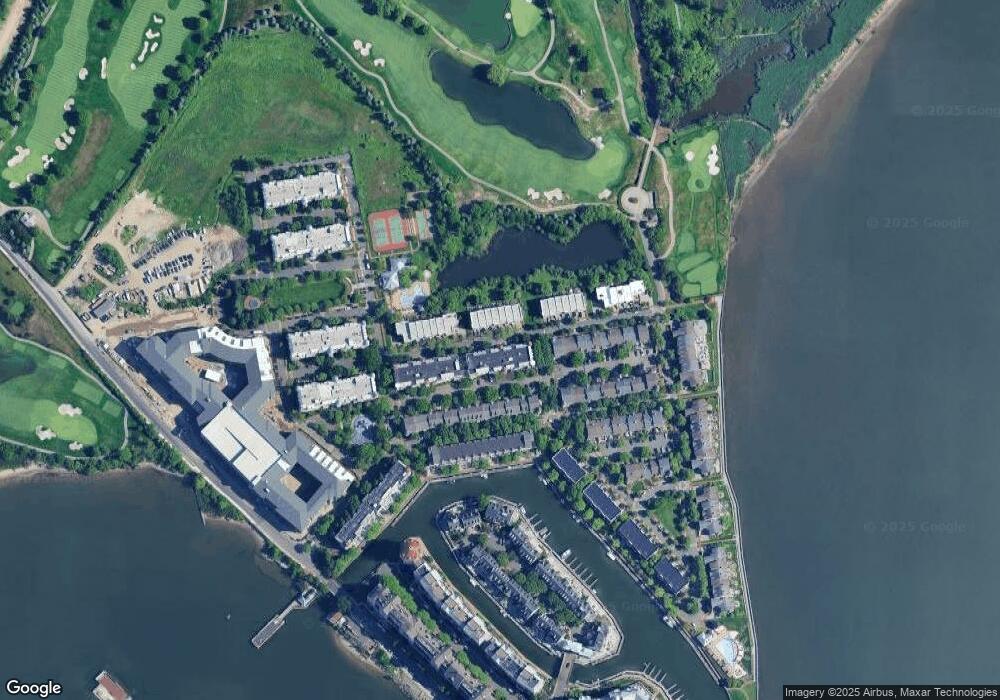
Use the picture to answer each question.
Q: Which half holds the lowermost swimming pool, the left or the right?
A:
right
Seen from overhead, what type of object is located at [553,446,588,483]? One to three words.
building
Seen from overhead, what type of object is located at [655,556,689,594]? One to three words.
building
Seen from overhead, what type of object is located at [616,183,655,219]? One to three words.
roundabout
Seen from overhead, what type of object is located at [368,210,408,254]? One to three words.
tennis court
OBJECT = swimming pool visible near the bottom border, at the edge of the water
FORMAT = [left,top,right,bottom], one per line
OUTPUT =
[706,626,746,678]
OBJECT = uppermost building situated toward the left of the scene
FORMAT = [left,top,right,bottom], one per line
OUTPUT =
[263,170,344,209]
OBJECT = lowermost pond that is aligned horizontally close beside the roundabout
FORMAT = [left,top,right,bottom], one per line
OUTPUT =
[438,221,626,290]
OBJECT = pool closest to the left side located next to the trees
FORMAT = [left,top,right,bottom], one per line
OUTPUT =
[391,280,431,314]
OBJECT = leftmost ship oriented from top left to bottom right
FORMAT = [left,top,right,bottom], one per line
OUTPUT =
[98,667,135,700]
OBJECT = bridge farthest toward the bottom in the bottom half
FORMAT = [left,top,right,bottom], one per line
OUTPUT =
[553,650,577,700]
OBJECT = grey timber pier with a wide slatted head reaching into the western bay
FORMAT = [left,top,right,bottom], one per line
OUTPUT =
[253,585,317,647]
